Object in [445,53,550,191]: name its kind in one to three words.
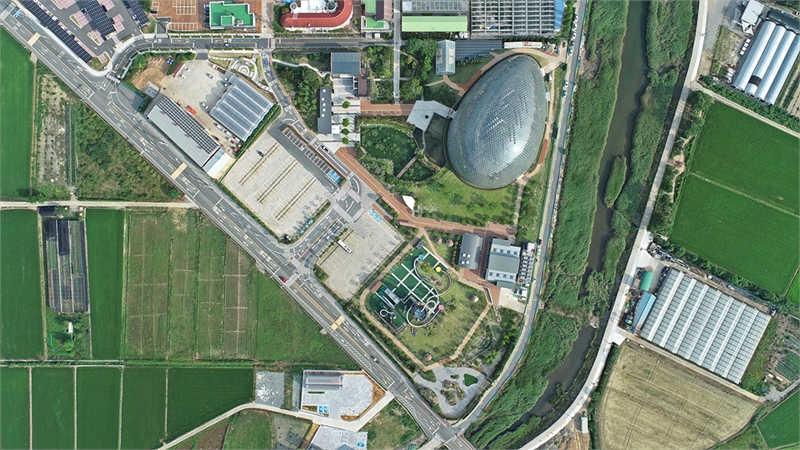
greenhouse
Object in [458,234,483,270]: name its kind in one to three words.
building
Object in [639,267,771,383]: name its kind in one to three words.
greenhouse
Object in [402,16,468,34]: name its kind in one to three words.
shed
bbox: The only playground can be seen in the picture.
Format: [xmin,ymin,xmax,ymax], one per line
[369,246,451,334]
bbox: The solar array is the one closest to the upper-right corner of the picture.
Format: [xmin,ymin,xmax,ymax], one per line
[455,39,502,61]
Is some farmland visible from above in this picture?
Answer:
Yes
